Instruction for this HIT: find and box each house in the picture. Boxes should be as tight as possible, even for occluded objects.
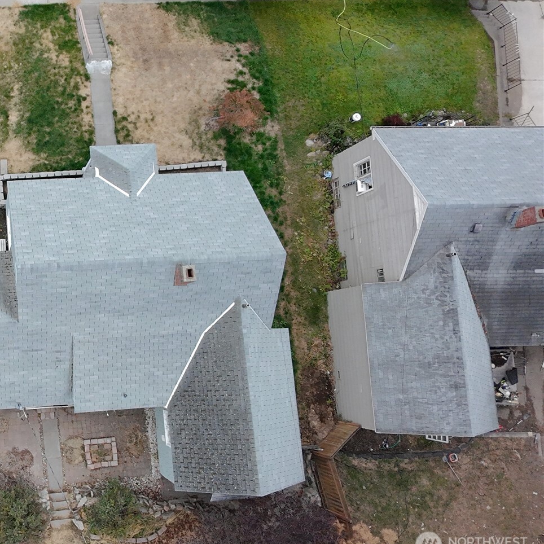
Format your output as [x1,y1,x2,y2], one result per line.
[0,143,305,501]
[327,123,544,437]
